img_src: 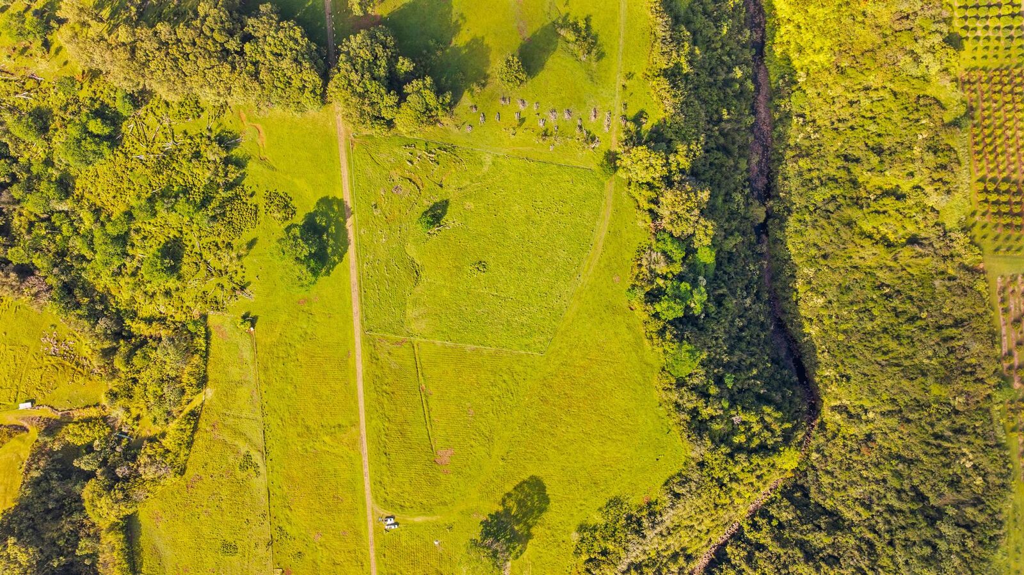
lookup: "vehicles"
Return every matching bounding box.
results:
[385,524,399,530]
[383,517,396,523]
